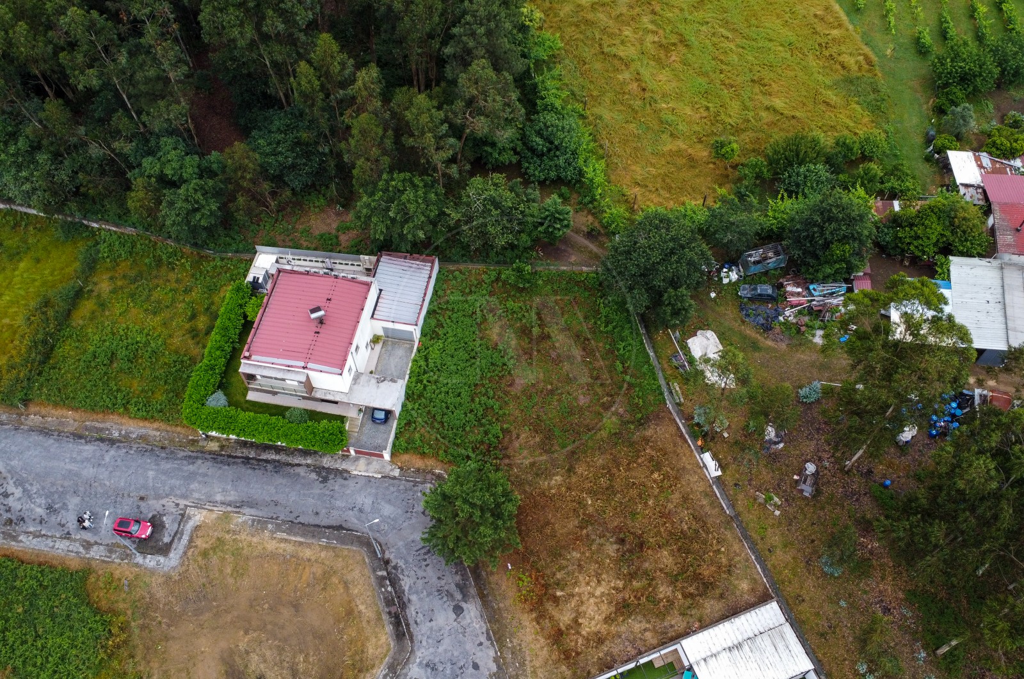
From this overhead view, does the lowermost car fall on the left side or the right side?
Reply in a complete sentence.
The lowermost car sits on the left side.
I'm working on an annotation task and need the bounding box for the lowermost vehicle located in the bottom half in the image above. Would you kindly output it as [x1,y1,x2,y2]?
[110,514,158,543]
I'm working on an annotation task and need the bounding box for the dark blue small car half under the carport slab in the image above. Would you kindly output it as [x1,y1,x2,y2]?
[372,407,392,423]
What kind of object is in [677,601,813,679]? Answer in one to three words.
shed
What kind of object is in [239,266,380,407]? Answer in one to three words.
house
